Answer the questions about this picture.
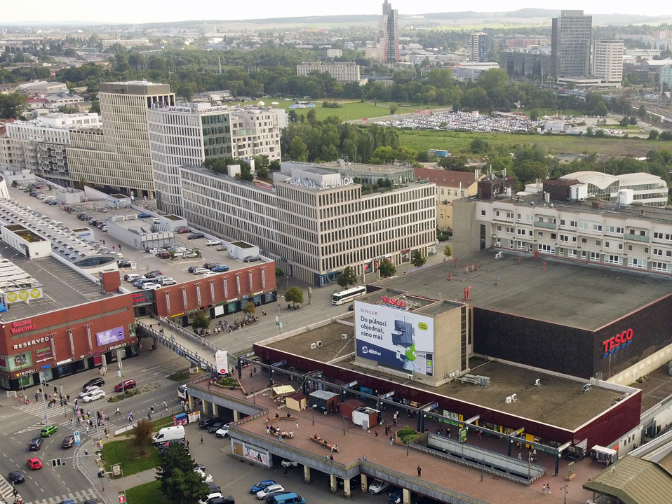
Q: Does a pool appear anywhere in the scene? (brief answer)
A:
No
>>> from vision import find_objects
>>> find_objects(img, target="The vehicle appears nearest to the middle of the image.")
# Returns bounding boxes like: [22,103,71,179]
[331,286,365,305]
